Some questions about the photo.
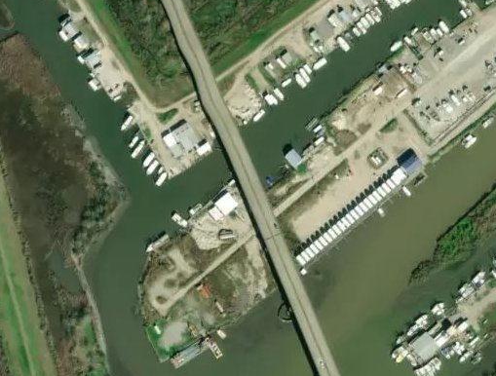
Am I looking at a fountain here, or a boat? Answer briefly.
boat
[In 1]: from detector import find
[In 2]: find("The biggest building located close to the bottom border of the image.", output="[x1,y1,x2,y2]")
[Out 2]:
[411,334,438,360]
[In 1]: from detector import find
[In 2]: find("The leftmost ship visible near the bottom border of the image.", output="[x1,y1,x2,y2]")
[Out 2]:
[169,338,211,367]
